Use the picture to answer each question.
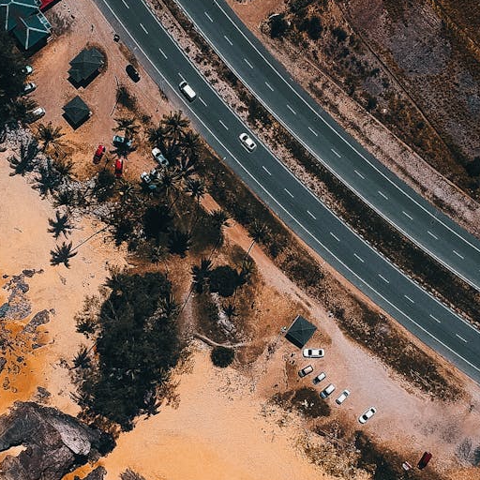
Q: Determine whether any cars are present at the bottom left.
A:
No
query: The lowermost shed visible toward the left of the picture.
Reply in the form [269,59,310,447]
[62,95,90,126]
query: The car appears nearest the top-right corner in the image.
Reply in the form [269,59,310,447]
[239,132,258,152]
